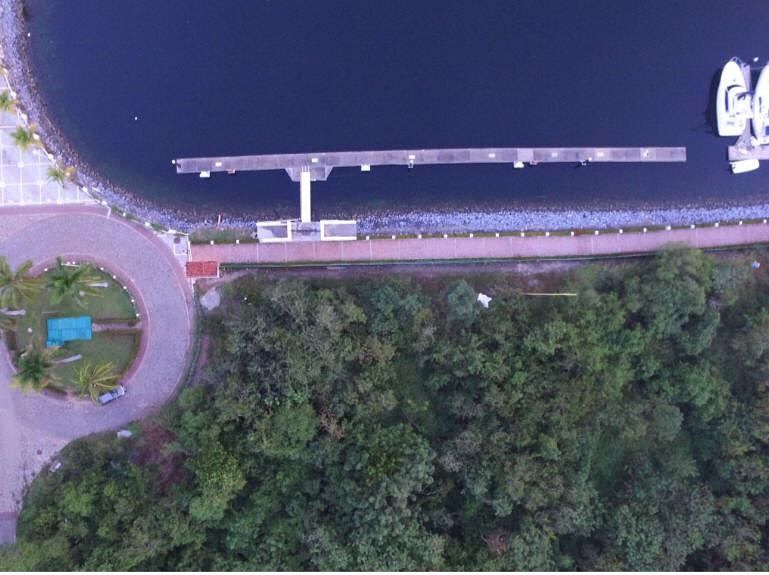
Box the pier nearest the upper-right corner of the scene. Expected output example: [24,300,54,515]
[727,64,769,161]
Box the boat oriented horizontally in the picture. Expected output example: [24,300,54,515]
[731,160,761,173]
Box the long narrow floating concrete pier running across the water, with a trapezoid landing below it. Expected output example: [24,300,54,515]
[176,146,688,182]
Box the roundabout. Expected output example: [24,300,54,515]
[4,254,150,400]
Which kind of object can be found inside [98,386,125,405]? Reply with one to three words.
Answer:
car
